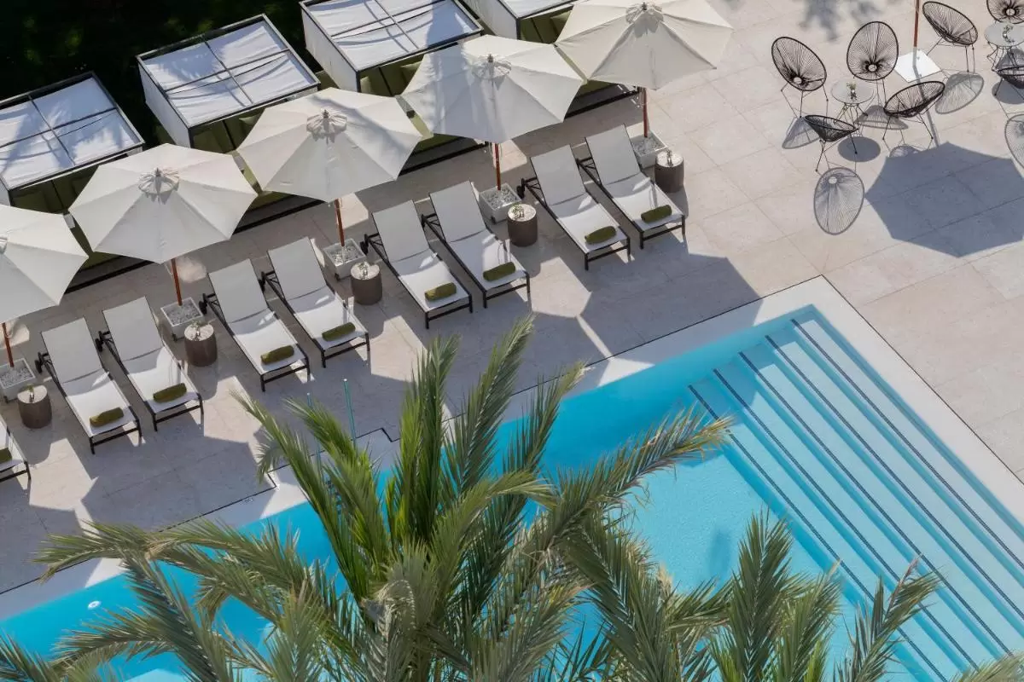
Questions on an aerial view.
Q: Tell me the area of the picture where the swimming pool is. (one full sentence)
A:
You can find the swimming pool in the bottom area of the picture.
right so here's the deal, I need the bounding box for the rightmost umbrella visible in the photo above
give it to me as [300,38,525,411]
[887,0,942,84]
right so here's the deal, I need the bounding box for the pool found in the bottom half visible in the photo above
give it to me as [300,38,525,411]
[3,310,926,682]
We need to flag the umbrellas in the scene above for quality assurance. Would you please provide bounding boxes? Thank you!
[403,34,585,196]
[236,88,422,253]
[0,202,87,372]
[887,0,942,84]
[68,144,259,311]
[556,0,733,143]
